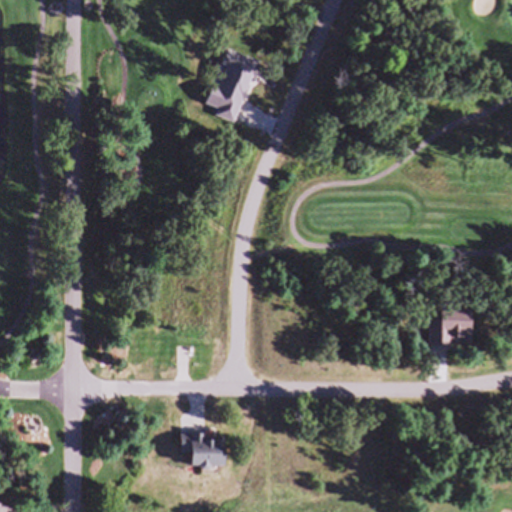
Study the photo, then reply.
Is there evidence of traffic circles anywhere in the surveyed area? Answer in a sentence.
No, no traffic circle is visible in the scene.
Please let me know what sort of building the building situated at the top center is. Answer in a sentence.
The building situated at the top center in the image is a home.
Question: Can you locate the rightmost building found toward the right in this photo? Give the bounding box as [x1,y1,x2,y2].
[442,311,475,345]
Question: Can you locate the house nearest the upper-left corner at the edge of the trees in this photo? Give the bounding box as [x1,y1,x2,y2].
[208,59,260,121]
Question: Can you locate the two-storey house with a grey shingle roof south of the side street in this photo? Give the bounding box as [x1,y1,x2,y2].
[181,432,226,470]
